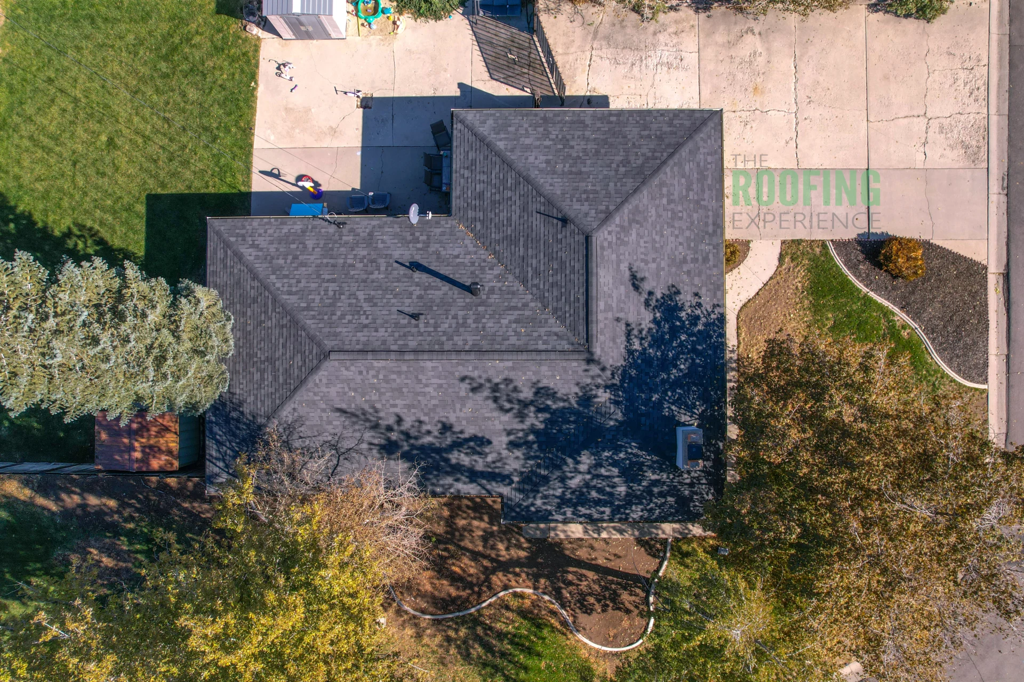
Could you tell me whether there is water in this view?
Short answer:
No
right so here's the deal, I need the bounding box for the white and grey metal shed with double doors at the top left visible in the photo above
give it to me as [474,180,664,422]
[263,0,347,39]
